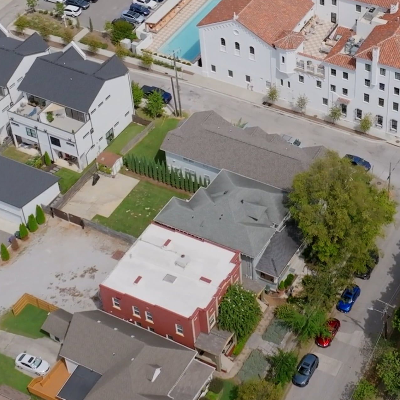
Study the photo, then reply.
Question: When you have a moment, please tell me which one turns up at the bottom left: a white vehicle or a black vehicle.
white vehicle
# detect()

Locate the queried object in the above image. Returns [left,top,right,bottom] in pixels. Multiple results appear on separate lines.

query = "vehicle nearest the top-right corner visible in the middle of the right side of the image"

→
[342,154,374,173]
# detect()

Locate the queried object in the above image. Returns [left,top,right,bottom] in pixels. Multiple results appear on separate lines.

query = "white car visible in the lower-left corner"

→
[11,353,50,378]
